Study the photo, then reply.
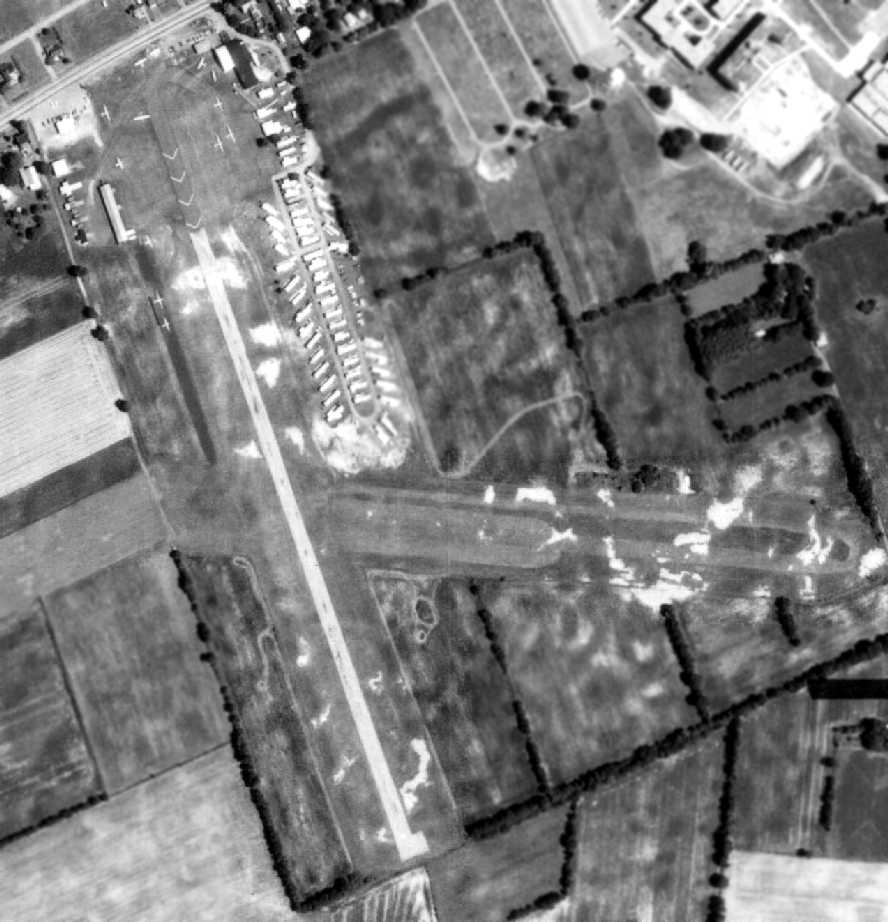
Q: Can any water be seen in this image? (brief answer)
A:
No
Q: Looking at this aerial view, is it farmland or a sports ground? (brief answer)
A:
farmland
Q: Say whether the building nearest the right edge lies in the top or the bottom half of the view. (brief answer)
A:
top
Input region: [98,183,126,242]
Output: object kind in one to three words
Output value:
hangar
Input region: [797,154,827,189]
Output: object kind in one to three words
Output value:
shed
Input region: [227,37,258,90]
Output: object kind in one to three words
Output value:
hangar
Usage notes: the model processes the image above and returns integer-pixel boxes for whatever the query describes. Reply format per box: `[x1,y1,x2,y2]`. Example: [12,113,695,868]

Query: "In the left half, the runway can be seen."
[191,229,429,861]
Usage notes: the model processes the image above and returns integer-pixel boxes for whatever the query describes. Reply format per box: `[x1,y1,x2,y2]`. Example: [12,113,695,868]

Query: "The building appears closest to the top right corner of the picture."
[852,50,888,134]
